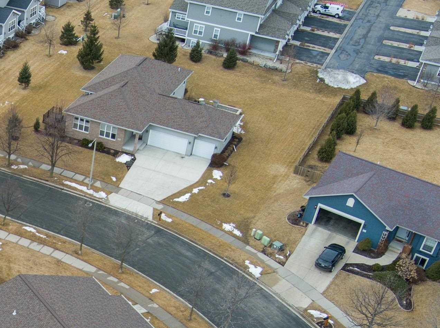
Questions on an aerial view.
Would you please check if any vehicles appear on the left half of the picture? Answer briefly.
No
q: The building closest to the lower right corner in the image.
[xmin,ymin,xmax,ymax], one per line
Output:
[302,150,440,262]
